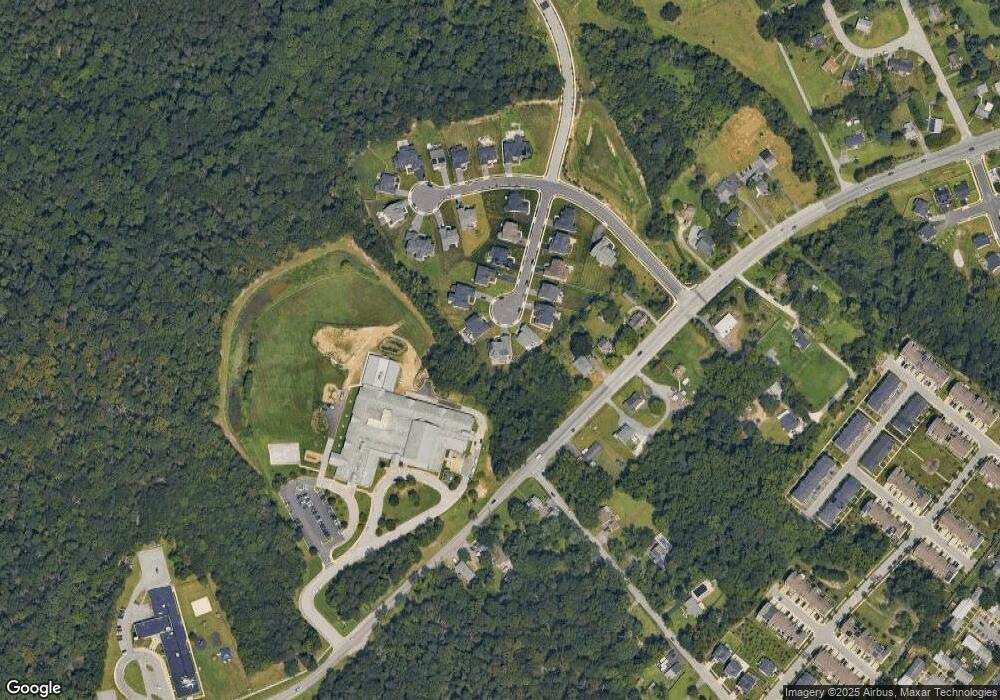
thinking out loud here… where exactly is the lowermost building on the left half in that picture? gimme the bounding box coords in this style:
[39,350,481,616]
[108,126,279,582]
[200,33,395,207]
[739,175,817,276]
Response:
[134,585,199,695]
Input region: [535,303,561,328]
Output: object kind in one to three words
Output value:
house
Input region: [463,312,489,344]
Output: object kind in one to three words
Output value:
house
